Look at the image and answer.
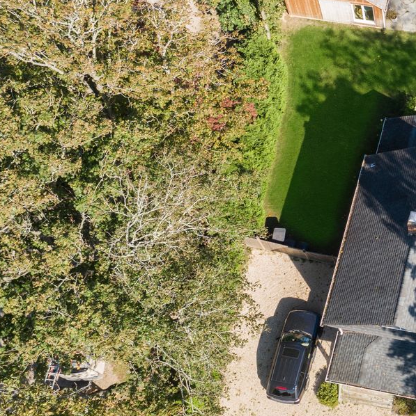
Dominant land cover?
trees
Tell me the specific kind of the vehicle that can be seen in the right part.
automobile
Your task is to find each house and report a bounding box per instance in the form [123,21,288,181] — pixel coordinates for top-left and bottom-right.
[286,0,390,28]
[321,115,416,400]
